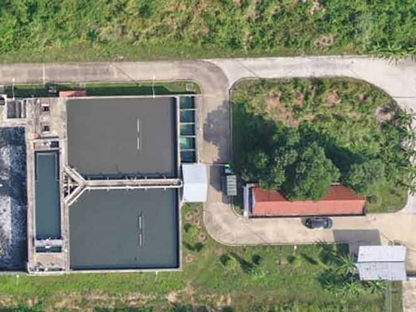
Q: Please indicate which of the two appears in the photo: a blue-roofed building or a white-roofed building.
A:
white-roofed building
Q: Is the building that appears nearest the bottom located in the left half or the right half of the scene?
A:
right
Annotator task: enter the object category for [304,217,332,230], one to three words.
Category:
vehicle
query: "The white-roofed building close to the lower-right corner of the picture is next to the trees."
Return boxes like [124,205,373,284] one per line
[352,245,407,280]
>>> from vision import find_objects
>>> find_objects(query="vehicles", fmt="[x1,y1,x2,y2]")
[218,164,237,200]
[304,217,332,230]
